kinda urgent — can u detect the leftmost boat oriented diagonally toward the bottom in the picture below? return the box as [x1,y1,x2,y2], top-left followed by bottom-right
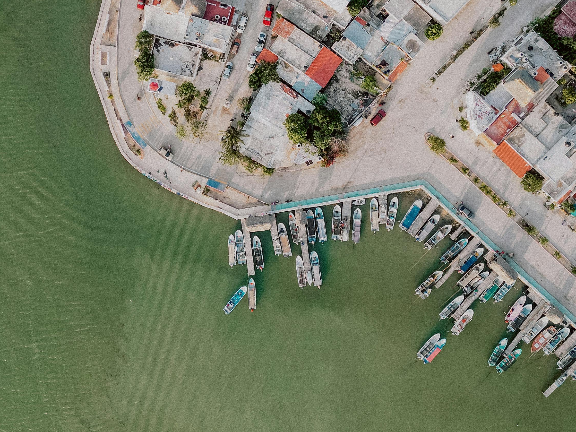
[224,286,247,314]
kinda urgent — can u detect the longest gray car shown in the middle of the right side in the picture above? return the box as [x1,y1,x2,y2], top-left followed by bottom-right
[456,203,474,220]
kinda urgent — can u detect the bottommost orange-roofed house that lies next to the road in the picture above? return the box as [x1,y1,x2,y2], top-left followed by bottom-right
[491,141,532,177]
